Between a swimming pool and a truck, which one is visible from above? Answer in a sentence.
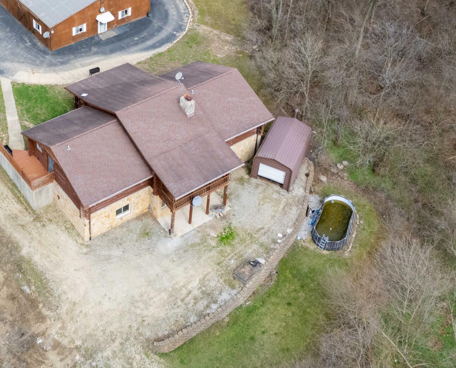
Visible in the photo is a swimming pool.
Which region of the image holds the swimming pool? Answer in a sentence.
The swimming pool appears toward the right of the photo.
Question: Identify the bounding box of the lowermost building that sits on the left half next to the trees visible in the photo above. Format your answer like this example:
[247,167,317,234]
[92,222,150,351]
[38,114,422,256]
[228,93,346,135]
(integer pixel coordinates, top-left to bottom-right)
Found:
[22,60,275,248]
